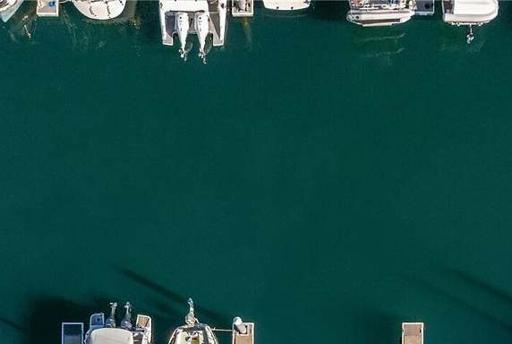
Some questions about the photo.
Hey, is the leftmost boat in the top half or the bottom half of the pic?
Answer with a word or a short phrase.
top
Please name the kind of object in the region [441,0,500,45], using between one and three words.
boat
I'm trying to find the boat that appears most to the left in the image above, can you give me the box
[0,0,32,28]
